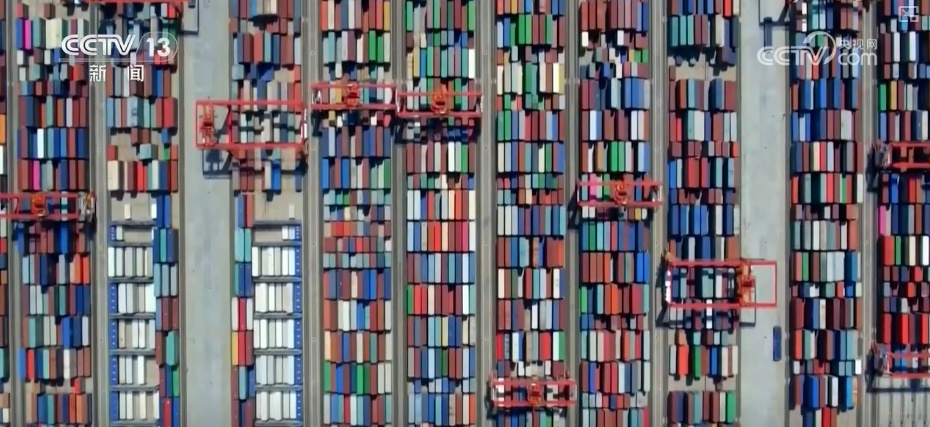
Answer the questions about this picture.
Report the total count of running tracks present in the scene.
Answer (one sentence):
The picture shows no running tracks.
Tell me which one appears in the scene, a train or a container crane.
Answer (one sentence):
Visible in the photo is a container crane.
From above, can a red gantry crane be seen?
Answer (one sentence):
Yes, you can see a red gantry crane in this photo.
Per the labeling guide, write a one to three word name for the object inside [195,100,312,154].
container crane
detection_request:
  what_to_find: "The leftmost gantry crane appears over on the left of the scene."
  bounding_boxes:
[0,184,97,227]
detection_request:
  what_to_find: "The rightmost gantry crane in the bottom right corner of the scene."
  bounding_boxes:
[868,336,930,379]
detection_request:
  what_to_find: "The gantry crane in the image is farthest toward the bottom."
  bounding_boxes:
[488,363,579,410]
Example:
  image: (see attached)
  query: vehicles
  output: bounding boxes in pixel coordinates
[773,324,781,361]
[764,16,772,53]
